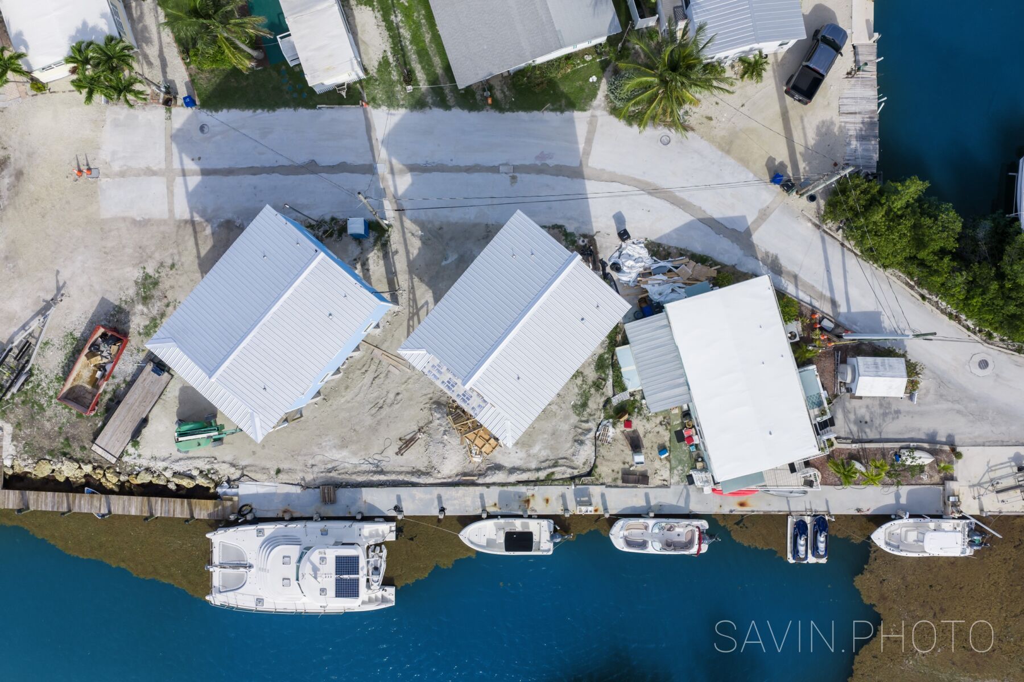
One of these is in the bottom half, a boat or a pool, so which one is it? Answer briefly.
boat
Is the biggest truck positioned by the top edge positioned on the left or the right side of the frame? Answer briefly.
right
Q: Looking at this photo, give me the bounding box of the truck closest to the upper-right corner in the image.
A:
[780,18,850,112]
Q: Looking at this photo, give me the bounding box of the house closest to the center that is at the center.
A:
[399,210,631,447]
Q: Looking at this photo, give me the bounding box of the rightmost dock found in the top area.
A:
[838,42,879,172]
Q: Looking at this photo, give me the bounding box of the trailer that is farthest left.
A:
[0,297,63,402]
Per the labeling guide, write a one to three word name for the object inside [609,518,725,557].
boat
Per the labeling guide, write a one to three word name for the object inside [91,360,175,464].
trailer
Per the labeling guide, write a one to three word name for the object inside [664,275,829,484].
house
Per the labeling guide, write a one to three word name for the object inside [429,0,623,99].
house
